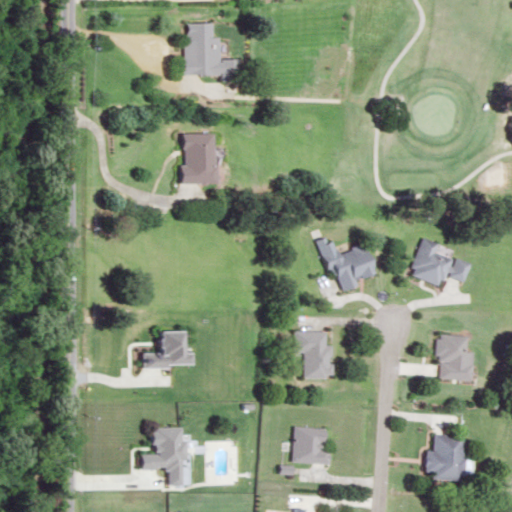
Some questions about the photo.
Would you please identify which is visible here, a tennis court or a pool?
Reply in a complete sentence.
Of the two, only a pool appears.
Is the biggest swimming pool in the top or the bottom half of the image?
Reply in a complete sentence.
Seen from above, the biggest swimming pool lies in the bottom half of the view.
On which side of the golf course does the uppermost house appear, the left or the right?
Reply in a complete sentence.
Relative to the golf course, the uppermost house is on the left.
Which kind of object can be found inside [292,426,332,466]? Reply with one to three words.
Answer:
house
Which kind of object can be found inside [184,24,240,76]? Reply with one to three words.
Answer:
house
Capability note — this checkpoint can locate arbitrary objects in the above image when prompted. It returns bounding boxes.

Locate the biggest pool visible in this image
[205,440,238,486]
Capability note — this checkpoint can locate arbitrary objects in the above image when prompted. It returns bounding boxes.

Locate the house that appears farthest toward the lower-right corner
[424,434,476,481]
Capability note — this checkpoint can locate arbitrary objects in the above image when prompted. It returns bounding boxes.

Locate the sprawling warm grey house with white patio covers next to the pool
[141,428,206,486]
